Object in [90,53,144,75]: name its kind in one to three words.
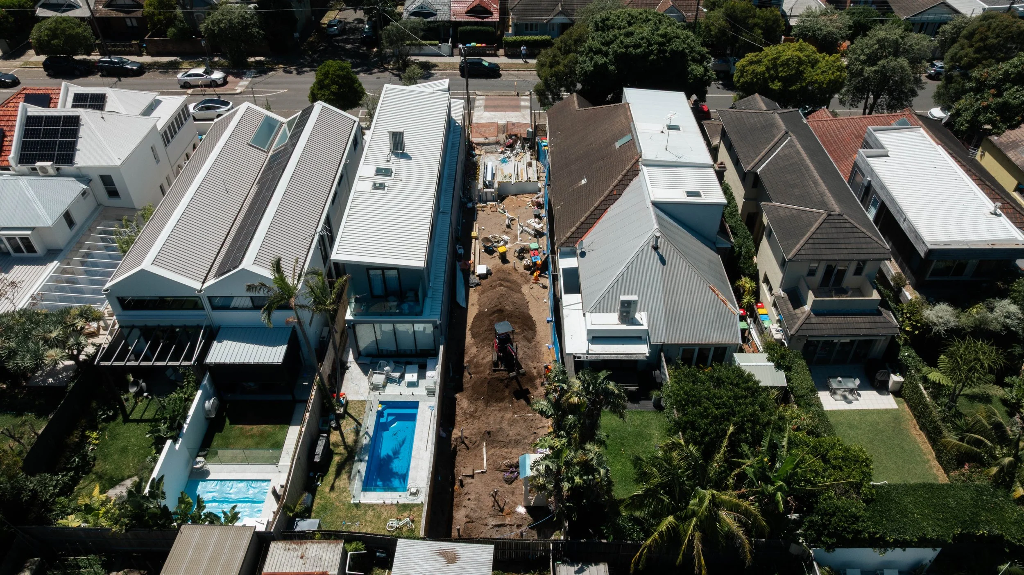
car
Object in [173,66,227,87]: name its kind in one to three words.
car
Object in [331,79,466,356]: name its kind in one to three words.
house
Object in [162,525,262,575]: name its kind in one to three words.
shed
